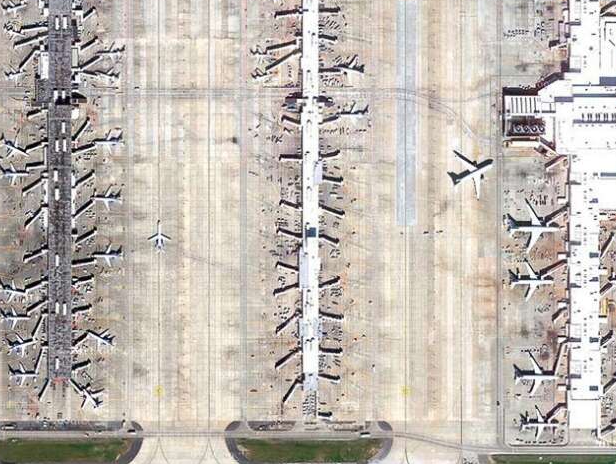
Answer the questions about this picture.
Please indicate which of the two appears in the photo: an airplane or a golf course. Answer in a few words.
airplane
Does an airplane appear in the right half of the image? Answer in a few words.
Yes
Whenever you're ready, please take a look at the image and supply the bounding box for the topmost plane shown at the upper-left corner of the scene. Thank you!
[2,0,26,17]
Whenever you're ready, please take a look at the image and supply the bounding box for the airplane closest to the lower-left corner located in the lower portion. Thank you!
[10,364,38,386]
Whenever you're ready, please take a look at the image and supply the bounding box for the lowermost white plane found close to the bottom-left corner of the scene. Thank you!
[80,387,103,410]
